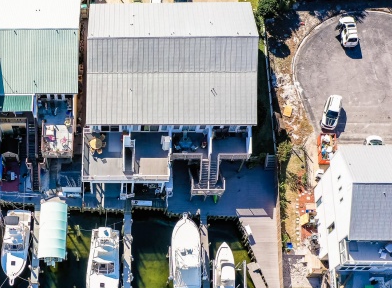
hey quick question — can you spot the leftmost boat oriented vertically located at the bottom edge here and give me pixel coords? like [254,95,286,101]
[1,210,31,282]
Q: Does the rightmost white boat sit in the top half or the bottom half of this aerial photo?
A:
bottom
